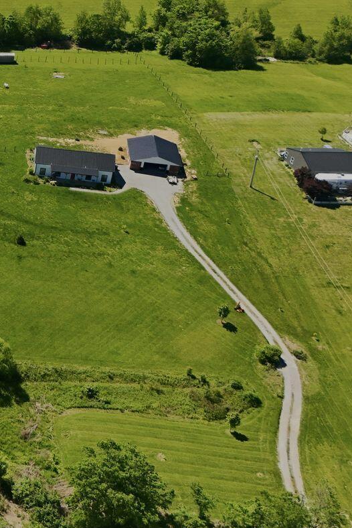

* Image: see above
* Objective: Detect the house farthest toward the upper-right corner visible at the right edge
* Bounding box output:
[278,146,352,177]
